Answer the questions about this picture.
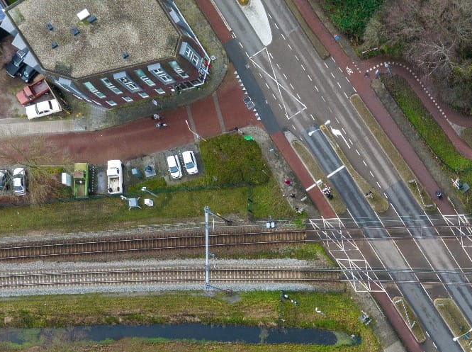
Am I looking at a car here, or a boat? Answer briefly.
car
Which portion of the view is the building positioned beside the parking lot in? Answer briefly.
top left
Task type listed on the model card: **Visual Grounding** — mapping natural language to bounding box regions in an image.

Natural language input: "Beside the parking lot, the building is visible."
[3,0,212,102]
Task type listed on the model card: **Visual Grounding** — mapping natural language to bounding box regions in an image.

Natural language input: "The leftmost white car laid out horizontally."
[27,100,62,118]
